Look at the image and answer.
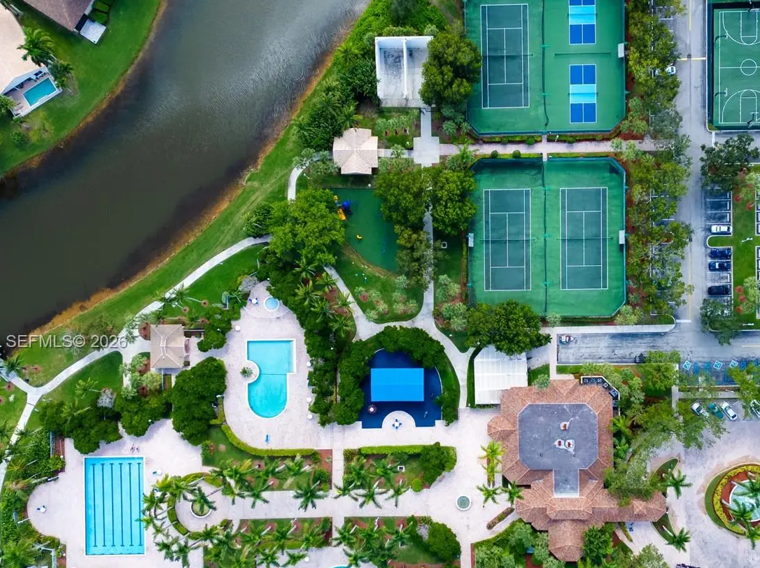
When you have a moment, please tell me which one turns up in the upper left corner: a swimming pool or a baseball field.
swimming pool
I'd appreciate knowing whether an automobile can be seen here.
Yes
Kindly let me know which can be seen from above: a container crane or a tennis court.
tennis court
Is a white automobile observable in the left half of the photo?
No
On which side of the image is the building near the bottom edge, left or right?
right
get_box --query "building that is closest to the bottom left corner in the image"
[150,324,185,368]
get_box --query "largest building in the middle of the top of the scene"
[334,127,378,175]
